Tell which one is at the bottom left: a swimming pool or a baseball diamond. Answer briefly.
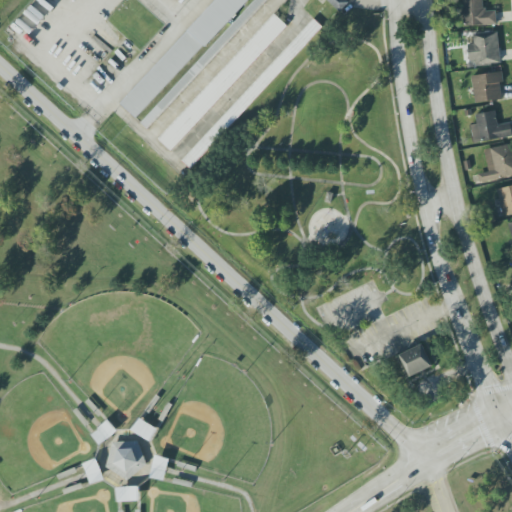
baseball diamond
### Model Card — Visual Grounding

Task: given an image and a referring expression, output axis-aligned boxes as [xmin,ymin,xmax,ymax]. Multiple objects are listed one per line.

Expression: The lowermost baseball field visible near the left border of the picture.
[4,480,116,512]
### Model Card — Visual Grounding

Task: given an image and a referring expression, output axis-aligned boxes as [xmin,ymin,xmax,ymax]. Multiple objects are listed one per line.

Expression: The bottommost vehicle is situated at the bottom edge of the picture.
[360,496,380,510]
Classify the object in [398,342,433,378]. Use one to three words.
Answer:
building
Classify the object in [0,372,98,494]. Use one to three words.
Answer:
baseball field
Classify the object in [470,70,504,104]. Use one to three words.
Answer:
house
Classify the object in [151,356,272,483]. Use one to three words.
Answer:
baseball field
